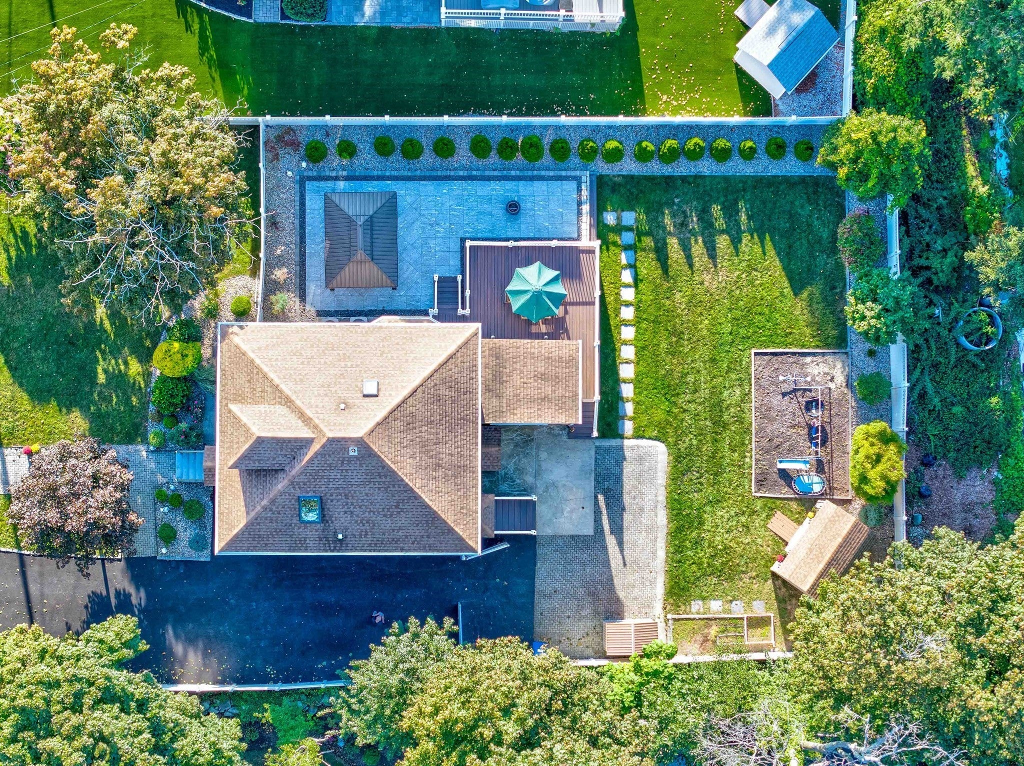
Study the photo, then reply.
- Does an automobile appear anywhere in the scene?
No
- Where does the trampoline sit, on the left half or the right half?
right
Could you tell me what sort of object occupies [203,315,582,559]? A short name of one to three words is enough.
house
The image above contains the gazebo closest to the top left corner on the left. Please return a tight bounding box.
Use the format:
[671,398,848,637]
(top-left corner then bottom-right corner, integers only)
[324,189,399,293]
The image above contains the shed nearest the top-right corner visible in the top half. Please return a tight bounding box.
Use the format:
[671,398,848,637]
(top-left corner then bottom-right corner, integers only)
[732,0,839,97]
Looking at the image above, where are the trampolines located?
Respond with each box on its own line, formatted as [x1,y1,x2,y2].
[792,474,825,494]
